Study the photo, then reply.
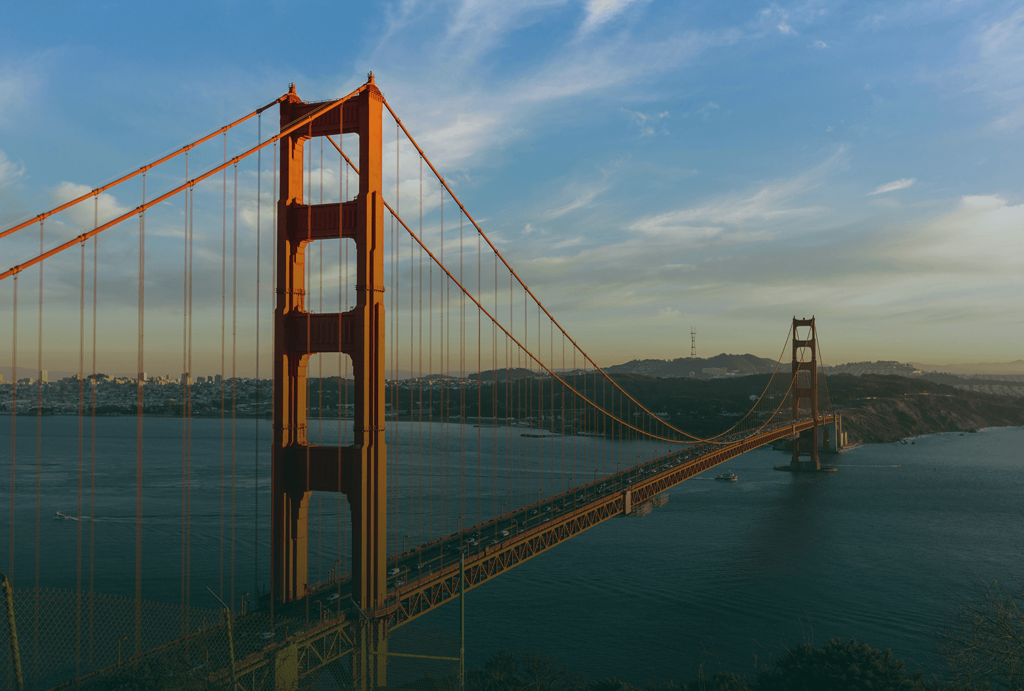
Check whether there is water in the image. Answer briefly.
Yes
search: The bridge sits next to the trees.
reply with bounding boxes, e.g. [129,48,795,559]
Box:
[0,72,844,691]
